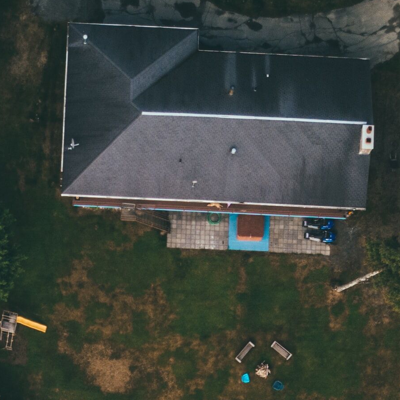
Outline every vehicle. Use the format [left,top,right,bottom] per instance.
[304,230,337,245]
[301,218,335,232]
